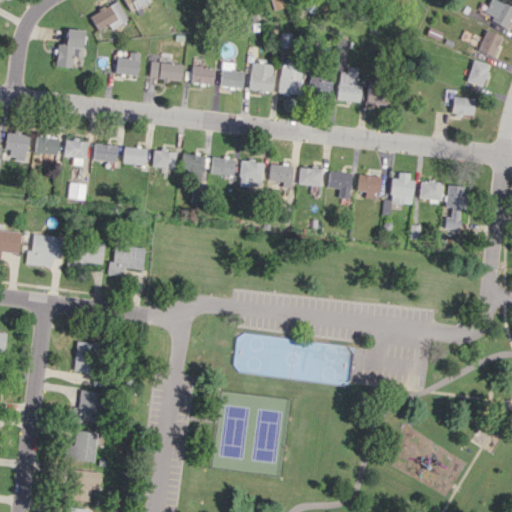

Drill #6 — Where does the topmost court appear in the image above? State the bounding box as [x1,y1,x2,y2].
[233,332,353,384]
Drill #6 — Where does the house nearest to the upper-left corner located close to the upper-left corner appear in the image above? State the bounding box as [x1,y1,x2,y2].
[53,28,90,69]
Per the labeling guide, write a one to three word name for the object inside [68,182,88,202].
building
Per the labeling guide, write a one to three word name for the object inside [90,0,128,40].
house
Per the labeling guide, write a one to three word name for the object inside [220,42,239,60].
swimming pool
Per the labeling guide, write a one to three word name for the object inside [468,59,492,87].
house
